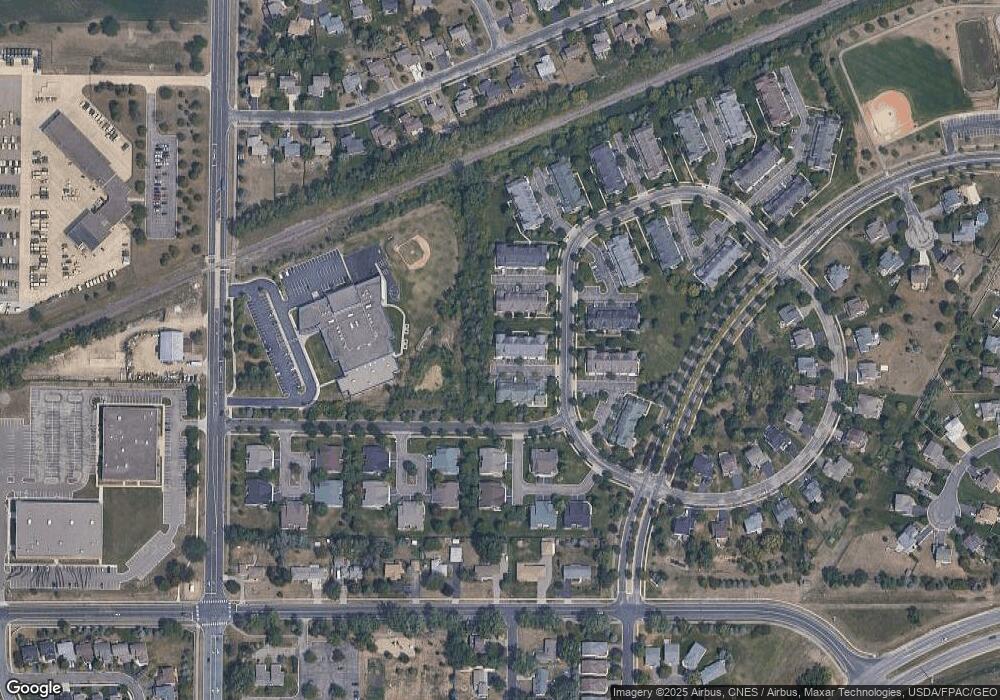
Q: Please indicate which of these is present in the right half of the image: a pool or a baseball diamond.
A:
baseball diamond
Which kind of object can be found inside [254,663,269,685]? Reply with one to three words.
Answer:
building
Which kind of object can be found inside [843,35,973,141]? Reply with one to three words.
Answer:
baseball field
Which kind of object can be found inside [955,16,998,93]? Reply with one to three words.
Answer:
sports field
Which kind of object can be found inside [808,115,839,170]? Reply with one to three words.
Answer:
house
